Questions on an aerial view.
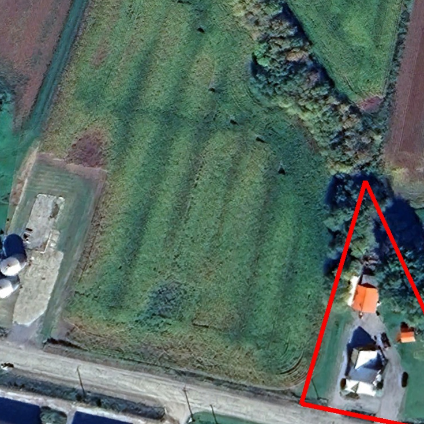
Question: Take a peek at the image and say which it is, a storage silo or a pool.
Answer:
storage silo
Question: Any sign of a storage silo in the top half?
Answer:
No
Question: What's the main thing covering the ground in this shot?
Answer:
grass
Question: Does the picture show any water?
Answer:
No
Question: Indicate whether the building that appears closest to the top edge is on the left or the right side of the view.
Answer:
right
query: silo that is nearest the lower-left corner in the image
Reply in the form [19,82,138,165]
[0,276,17,297]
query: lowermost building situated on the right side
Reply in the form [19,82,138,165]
[344,343,384,397]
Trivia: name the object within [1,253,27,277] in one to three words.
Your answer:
silo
